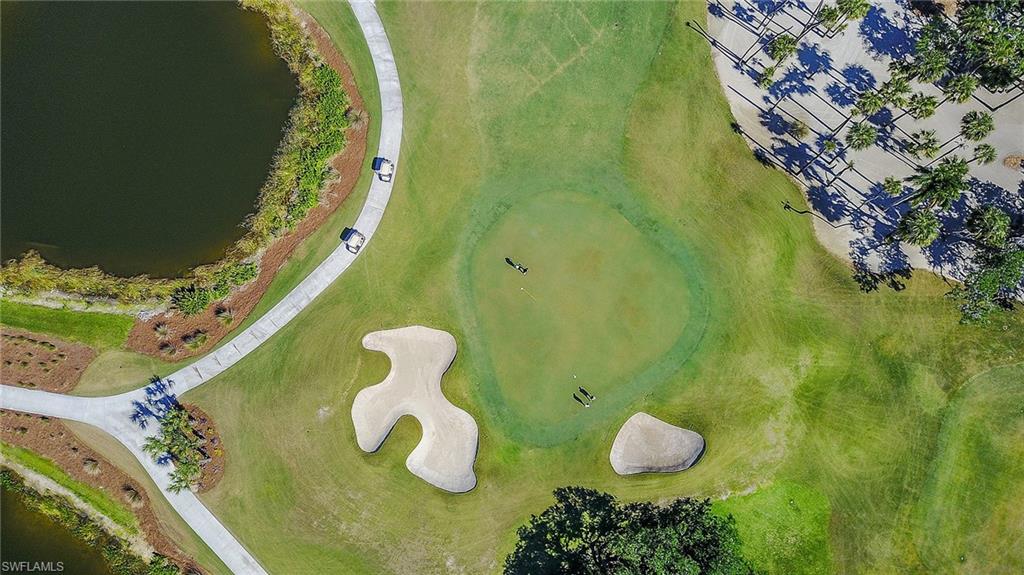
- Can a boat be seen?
No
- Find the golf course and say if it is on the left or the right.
right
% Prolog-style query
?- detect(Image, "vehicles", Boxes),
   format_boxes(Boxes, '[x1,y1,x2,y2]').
[377,158,393,183]
[343,231,365,256]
